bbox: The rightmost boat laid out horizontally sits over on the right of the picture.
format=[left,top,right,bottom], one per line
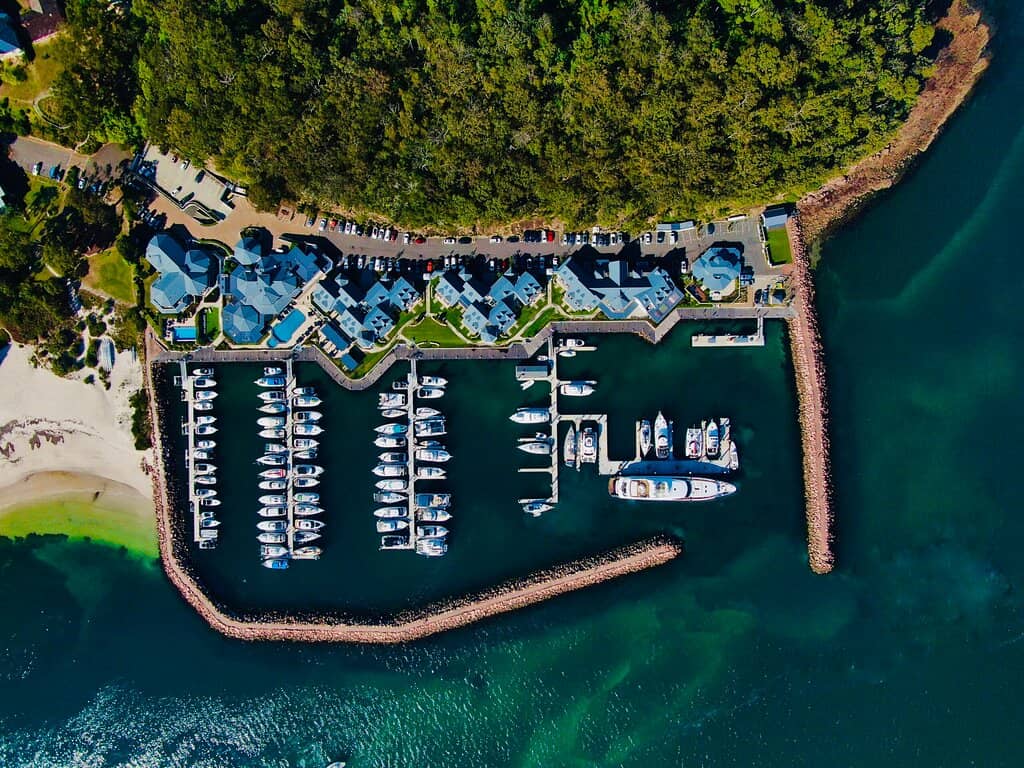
[607,474,737,501]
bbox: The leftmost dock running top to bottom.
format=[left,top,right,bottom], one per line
[175,360,215,542]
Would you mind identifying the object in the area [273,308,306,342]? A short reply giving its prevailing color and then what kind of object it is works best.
blue swimming pool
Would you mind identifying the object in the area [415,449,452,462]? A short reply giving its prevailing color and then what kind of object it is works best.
white boat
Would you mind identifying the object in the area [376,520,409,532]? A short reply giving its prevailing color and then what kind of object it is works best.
white boat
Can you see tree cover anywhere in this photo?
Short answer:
Yes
